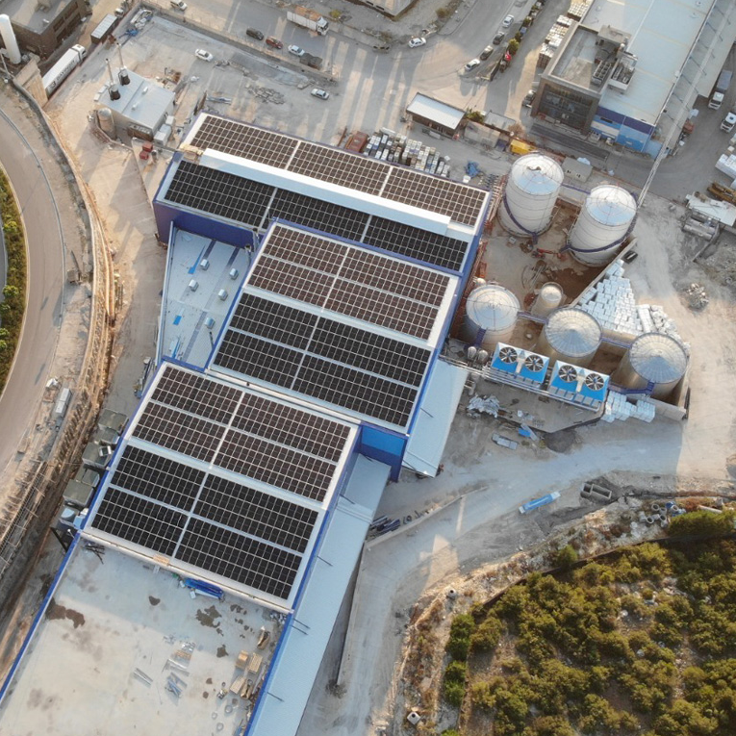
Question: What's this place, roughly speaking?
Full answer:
This looks like an industrial area.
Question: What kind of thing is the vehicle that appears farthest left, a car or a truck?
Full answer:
It turns out the vehicle that appears farthest left is a truck.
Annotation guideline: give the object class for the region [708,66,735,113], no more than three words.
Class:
truck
